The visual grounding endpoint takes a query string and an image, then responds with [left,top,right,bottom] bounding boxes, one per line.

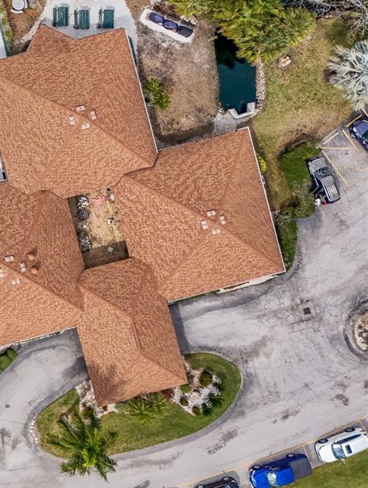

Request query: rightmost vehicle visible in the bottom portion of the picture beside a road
[314,426,368,462]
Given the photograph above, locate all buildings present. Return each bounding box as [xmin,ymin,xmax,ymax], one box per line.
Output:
[0,25,285,406]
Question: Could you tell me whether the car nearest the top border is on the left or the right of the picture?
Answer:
right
